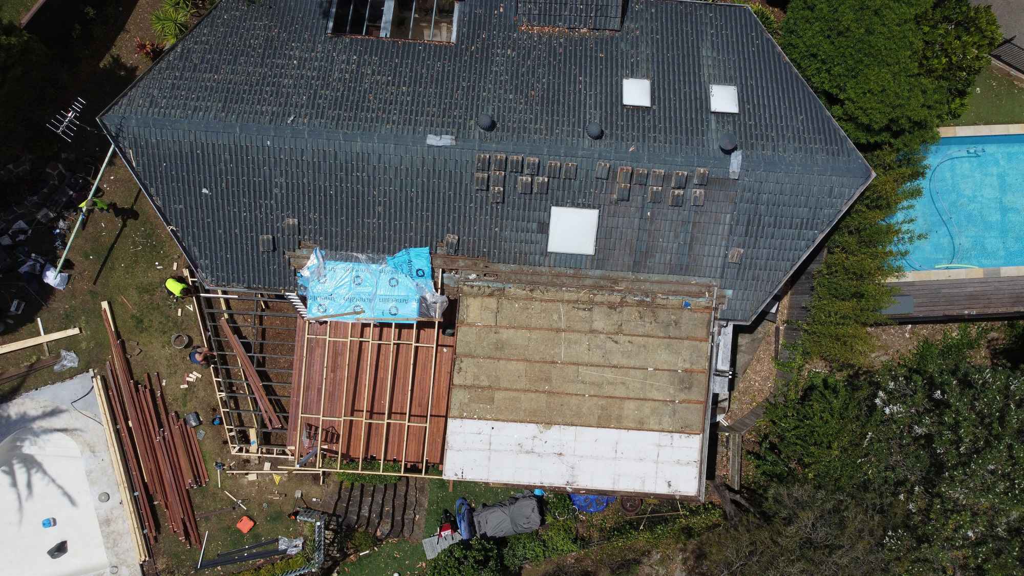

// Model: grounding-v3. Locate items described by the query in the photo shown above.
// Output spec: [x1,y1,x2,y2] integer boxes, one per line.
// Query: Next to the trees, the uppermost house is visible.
[92,0,878,508]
